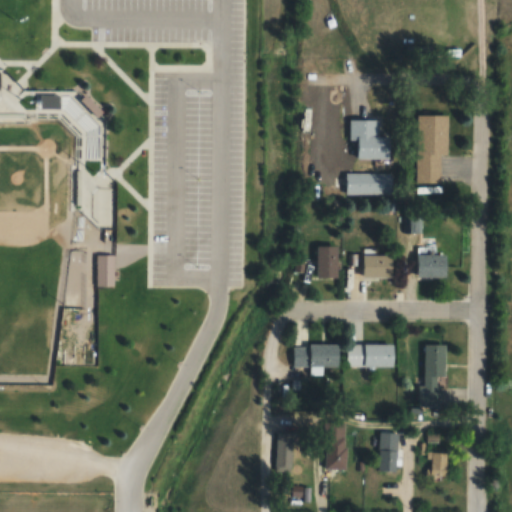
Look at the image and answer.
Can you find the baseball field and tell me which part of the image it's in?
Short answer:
left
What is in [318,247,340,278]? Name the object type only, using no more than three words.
house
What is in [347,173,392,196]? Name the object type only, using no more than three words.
barn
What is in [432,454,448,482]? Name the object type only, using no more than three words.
house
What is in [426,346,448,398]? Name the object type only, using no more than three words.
building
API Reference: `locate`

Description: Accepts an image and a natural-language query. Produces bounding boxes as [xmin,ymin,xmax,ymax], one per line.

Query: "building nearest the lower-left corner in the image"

[98,255,116,288]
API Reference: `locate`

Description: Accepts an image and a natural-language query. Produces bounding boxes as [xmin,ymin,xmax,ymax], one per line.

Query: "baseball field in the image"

[0,122,72,384]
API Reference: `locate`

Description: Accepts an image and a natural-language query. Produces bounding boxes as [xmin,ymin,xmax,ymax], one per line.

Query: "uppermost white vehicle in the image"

[326,14,338,31]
